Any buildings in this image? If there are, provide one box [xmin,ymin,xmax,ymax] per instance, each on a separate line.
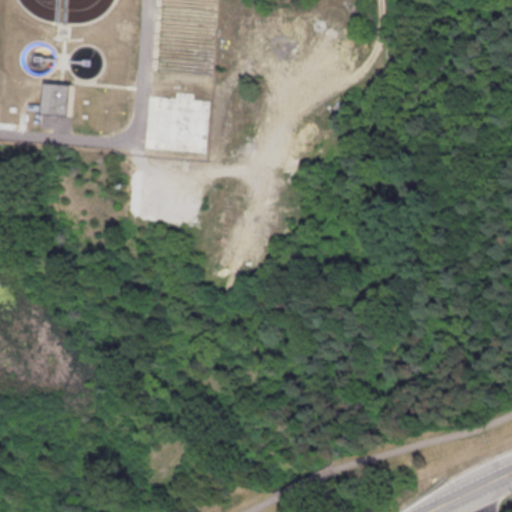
[40,84,68,117]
